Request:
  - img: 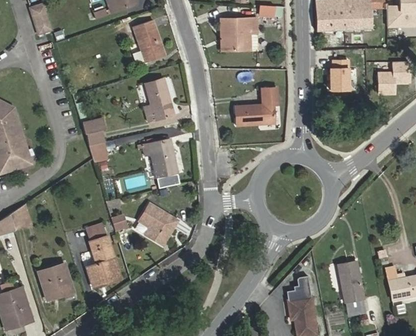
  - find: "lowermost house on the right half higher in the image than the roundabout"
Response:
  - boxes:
[235,86,280,126]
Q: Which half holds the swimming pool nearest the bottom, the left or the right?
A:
left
